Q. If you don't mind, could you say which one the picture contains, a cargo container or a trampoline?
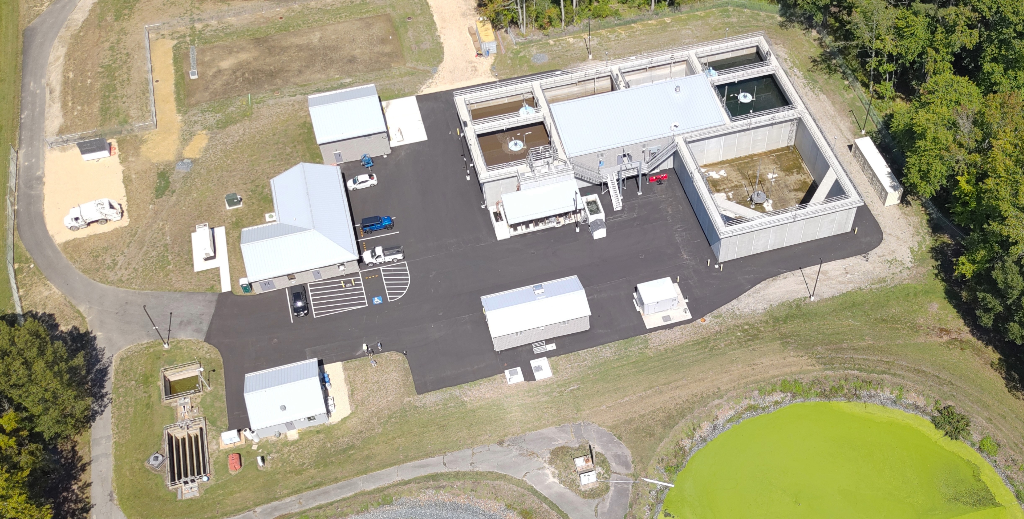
cargo container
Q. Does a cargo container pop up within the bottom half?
No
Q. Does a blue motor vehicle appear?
Yes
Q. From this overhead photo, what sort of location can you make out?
industrial area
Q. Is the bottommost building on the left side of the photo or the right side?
left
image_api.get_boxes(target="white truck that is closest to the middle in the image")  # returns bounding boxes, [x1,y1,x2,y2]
[363,243,404,266]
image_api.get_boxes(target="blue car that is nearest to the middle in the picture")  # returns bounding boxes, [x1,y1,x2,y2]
[362,214,394,233]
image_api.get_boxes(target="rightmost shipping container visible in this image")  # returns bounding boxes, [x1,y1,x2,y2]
[853,136,905,205]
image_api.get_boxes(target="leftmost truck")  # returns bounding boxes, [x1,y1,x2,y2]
[61,198,116,231]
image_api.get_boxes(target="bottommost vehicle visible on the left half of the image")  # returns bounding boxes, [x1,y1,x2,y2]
[289,281,308,315]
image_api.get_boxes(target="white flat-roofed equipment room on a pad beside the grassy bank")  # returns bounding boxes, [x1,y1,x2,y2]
[637,276,678,315]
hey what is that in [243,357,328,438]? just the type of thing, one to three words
building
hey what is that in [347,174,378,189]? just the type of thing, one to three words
car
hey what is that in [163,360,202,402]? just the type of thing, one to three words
storage tank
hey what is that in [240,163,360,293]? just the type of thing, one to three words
building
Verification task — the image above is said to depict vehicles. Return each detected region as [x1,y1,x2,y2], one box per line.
[363,243,404,266]
[362,214,394,233]
[289,281,308,315]
[61,198,116,231]
[347,174,378,189]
